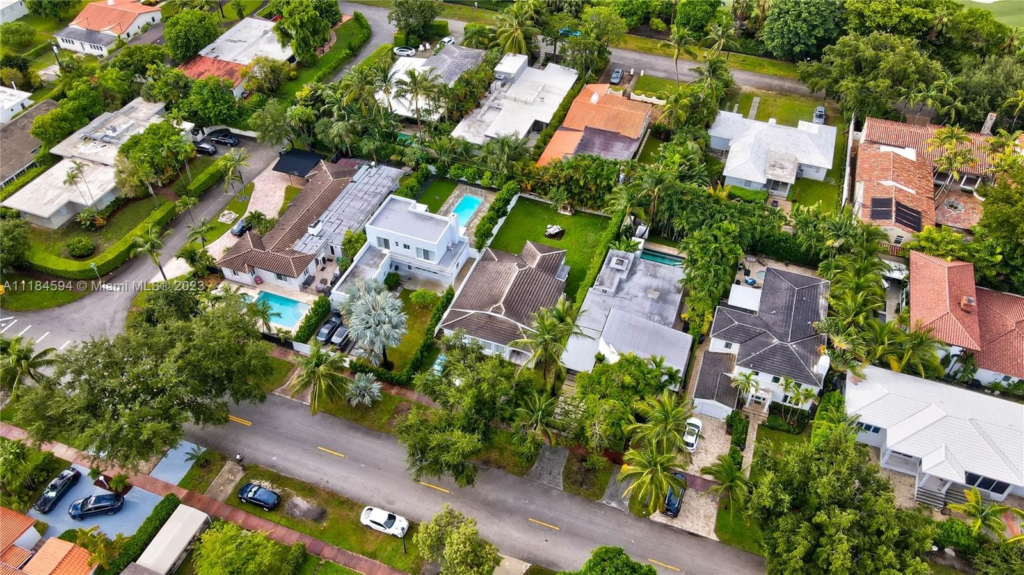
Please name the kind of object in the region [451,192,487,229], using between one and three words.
swimming pool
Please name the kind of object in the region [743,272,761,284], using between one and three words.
umbrella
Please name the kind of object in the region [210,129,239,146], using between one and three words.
car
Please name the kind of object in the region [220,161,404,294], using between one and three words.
house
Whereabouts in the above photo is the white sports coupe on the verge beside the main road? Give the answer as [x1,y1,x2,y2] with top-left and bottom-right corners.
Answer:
[358,505,409,539]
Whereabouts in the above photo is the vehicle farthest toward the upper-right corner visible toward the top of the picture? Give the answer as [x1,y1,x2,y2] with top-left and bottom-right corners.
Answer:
[812,105,827,124]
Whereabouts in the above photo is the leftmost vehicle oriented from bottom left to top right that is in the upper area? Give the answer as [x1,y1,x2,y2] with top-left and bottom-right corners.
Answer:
[227,214,257,237]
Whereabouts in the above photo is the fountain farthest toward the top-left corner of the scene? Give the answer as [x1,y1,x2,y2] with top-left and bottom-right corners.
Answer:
[213,209,241,225]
